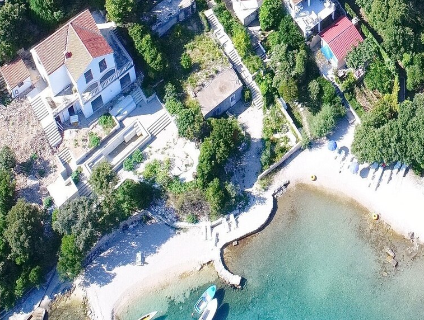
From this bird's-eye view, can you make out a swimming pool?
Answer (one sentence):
No, the scene contains no swimming pool.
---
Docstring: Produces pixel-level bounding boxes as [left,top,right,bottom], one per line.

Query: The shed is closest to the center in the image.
[194,68,243,121]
